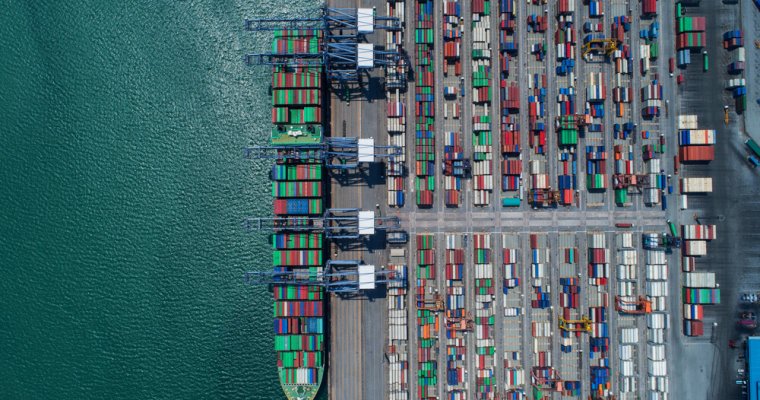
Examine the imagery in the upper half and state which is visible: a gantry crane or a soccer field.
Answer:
gantry crane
